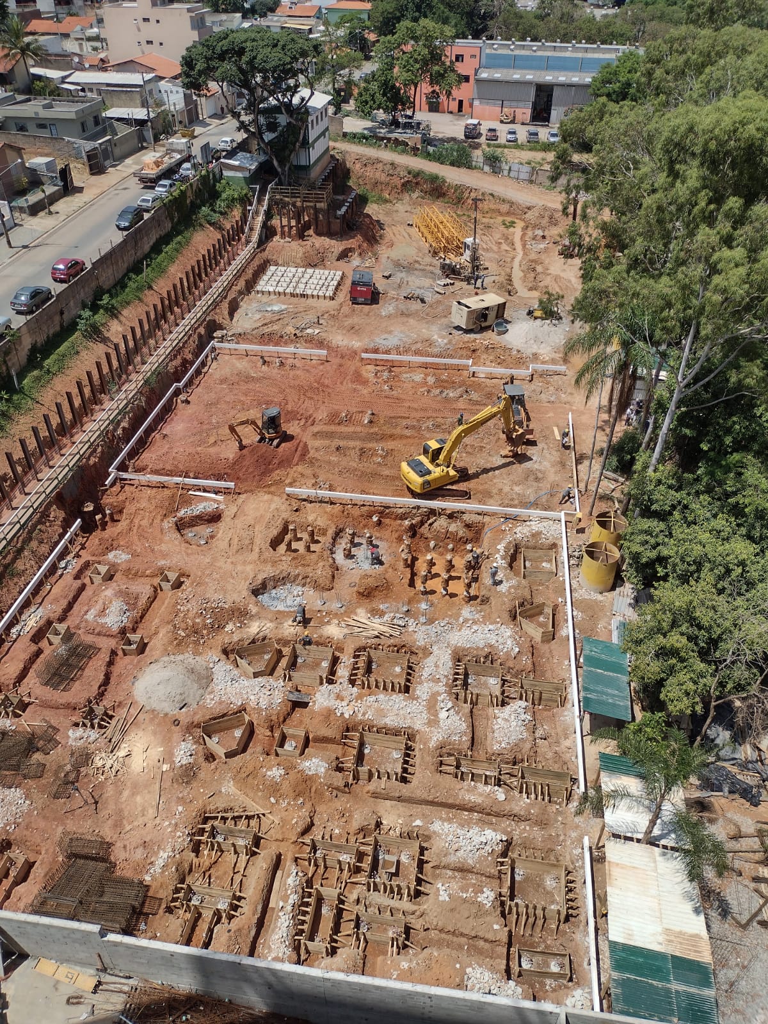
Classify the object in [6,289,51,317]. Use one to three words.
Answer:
car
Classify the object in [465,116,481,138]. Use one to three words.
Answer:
vehicle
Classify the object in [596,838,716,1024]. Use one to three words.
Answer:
shed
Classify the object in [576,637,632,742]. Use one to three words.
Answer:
shed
